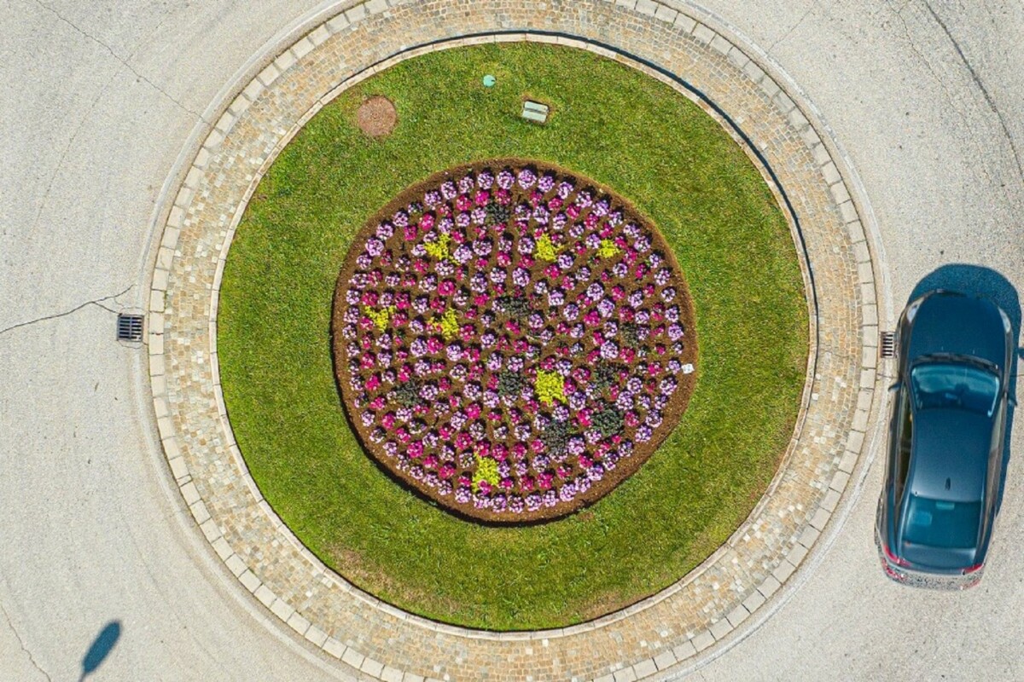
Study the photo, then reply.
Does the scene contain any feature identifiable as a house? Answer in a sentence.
No, the frame has no house in it.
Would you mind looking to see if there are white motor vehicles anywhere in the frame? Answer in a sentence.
No, I find no white motor vehicle anywhere in the image.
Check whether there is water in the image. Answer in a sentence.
No, there is no water in the image.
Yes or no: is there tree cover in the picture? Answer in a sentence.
No, no tree cover is visible.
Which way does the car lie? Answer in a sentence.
I'd say the car is aligned up and down in the picture.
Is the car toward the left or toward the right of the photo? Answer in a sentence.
You can find the car on the right side of the picture.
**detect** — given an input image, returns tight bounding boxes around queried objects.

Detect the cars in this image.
[873,289,1022,590]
